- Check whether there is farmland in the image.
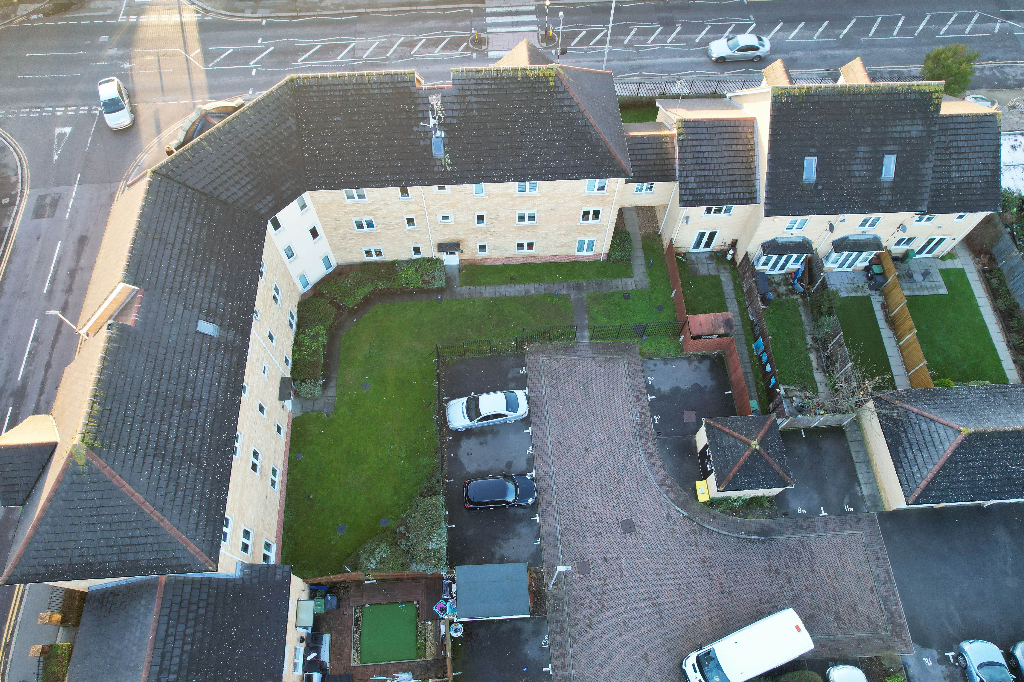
No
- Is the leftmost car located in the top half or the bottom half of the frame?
top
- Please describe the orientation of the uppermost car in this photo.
horizontally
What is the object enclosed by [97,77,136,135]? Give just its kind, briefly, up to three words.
car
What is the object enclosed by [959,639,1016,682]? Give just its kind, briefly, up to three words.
car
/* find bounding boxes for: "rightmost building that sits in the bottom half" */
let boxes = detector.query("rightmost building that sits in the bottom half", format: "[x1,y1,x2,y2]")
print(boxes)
[859,382,1024,511]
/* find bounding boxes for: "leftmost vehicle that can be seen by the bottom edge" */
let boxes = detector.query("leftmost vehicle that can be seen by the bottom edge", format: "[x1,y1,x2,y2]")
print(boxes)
[683,611,811,682]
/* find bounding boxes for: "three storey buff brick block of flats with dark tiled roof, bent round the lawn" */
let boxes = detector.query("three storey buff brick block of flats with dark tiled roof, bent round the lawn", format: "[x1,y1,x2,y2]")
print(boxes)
[0,36,635,587]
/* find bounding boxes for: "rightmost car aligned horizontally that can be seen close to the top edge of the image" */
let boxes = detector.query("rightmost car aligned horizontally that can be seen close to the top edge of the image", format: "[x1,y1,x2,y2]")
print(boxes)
[704,31,771,63]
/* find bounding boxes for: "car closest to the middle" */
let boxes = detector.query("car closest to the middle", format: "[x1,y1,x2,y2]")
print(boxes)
[445,390,528,432]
